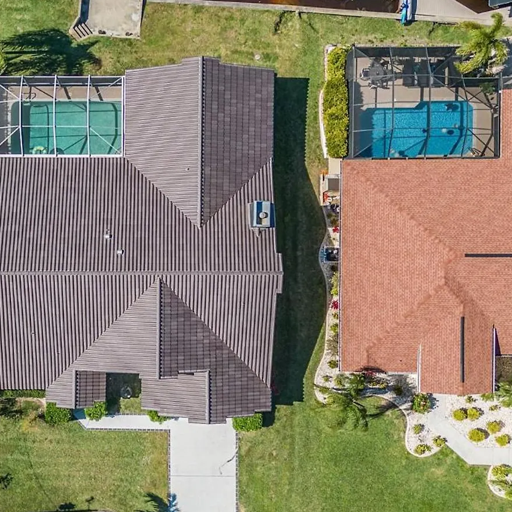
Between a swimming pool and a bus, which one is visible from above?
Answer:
swimming pool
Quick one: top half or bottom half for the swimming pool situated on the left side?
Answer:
top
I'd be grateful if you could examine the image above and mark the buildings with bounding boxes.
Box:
[336,88,512,442]
[0,56,284,424]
